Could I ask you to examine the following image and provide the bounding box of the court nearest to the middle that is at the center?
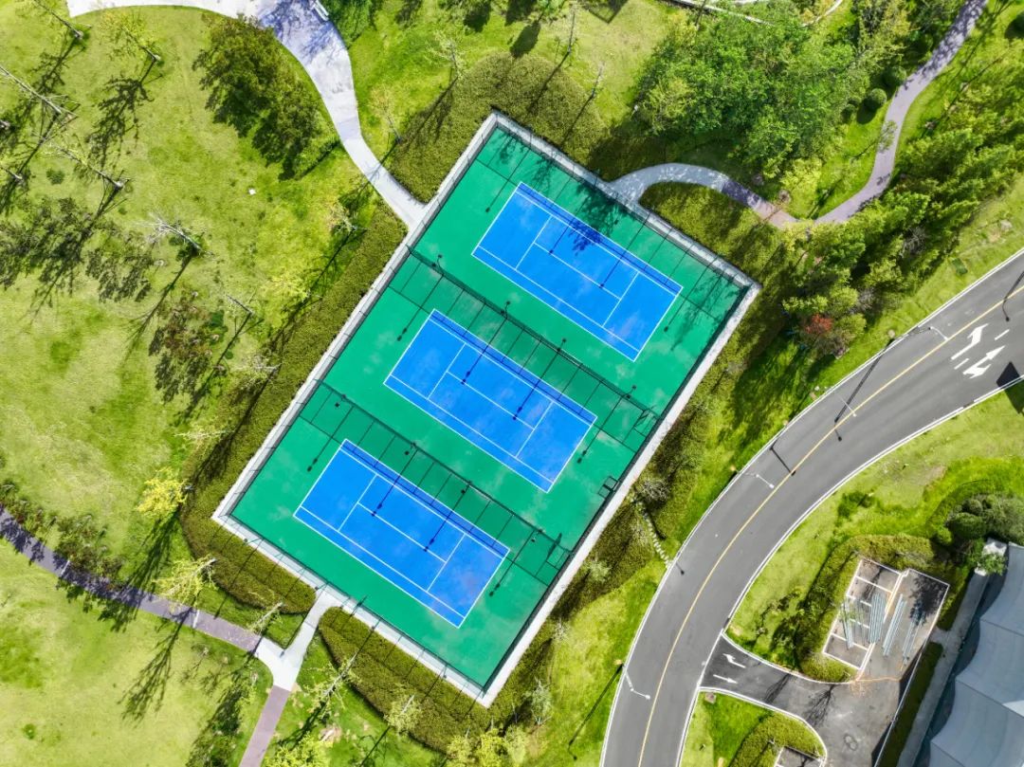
[384,309,597,493]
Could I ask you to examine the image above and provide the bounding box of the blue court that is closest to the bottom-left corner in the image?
[294,439,509,627]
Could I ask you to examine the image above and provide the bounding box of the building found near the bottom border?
[906,543,1024,767]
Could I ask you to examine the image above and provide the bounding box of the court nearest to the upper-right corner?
[472,182,682,361]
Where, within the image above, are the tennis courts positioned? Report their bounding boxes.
[472,182,682,361]
[294,439,509,627]
[384,309,597,493]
